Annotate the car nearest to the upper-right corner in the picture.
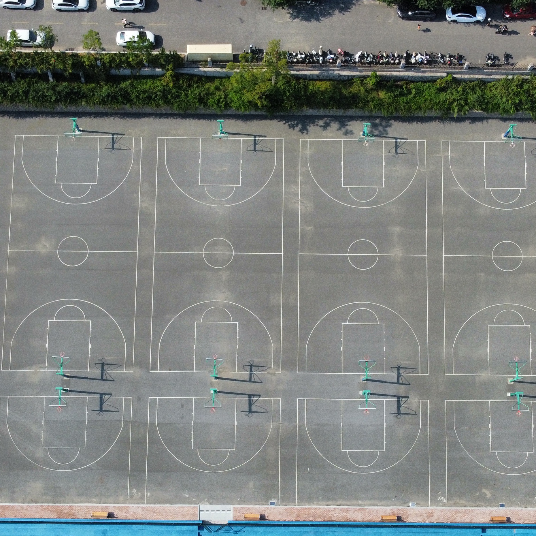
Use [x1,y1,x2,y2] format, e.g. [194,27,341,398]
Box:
[502,2,536,23]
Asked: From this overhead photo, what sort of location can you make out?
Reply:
sports ground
